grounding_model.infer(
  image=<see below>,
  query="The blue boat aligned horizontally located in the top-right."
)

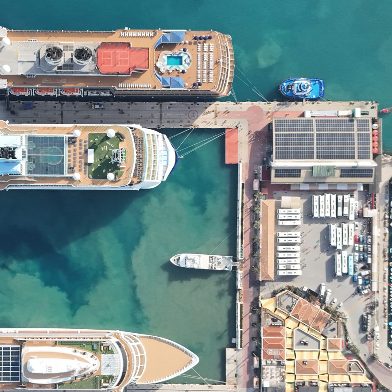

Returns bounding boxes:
[278,76,326,99]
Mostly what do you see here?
water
